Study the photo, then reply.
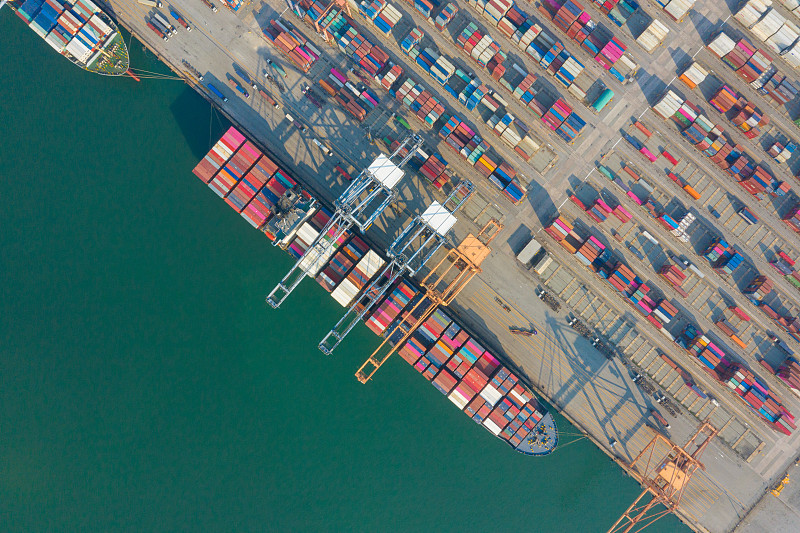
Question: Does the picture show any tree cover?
No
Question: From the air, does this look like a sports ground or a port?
port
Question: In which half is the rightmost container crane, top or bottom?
bottom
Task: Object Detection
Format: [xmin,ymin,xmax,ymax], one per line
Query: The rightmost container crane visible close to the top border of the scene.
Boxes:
[313,0,352,44]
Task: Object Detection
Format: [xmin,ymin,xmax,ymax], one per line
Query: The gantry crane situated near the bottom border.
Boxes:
[606,419,720,533]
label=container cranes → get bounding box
[351,219,502,386]
[317,179,477,356]
[313,0,352,44]
[606,419,720,533]
[266,134,426,311]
